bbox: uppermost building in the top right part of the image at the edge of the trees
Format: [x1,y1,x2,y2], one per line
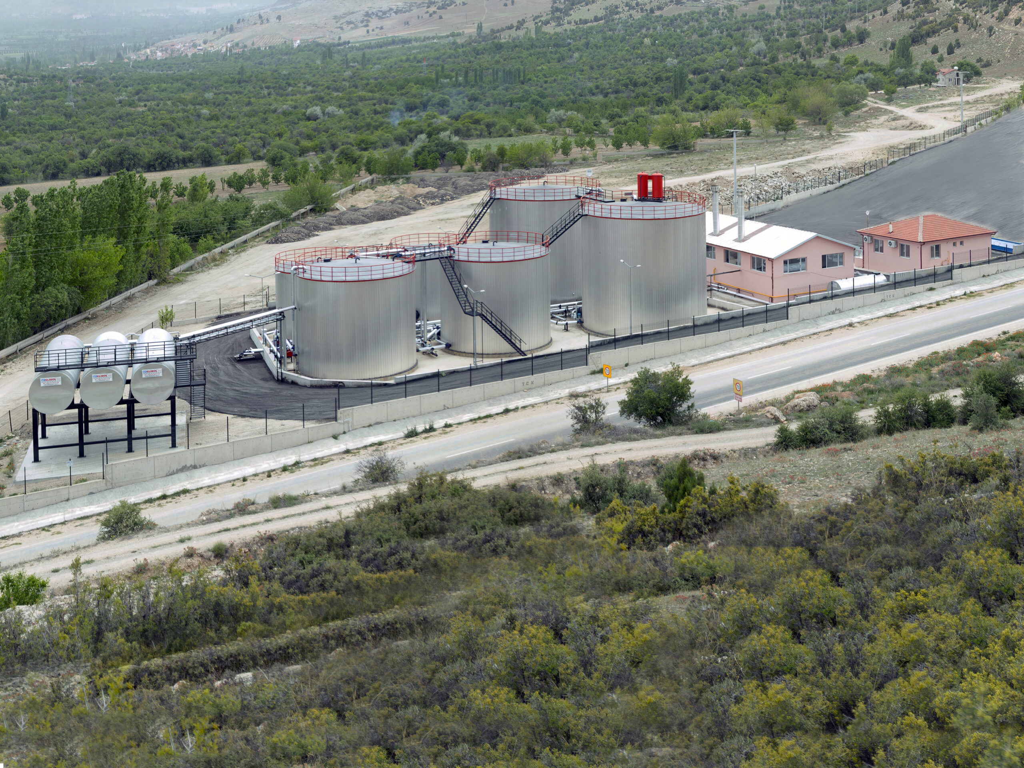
[935,63,964,86]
